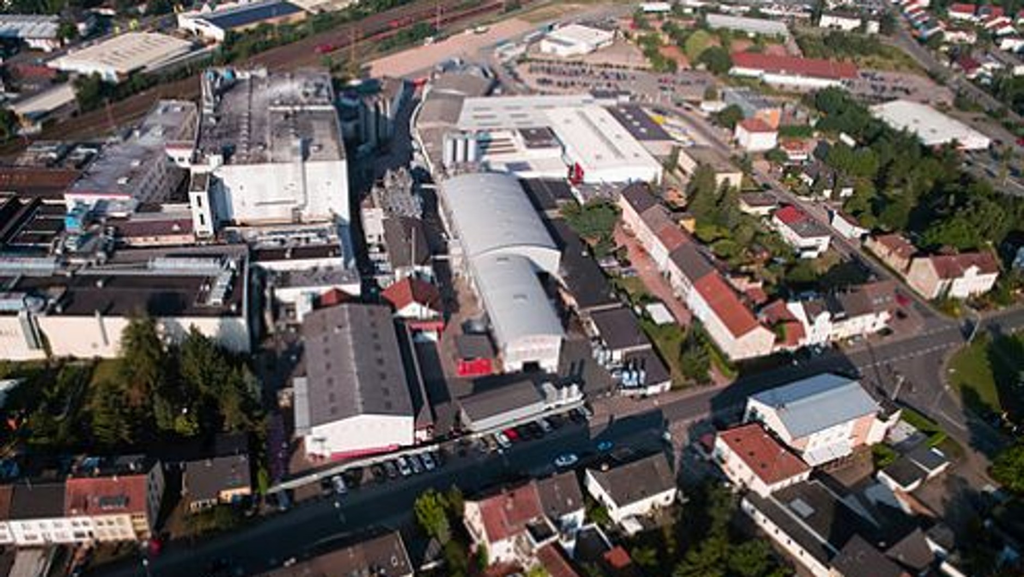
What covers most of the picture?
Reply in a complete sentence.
Most of the picture is covered by buildings.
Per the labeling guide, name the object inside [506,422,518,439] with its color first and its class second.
red vehicle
